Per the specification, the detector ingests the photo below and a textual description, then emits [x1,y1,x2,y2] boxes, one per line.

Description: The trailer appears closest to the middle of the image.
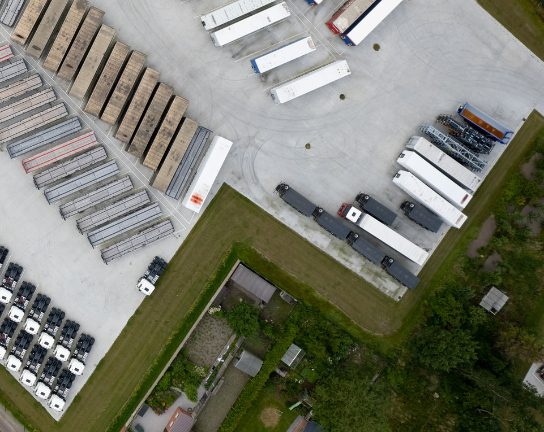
[269,176,318,219]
